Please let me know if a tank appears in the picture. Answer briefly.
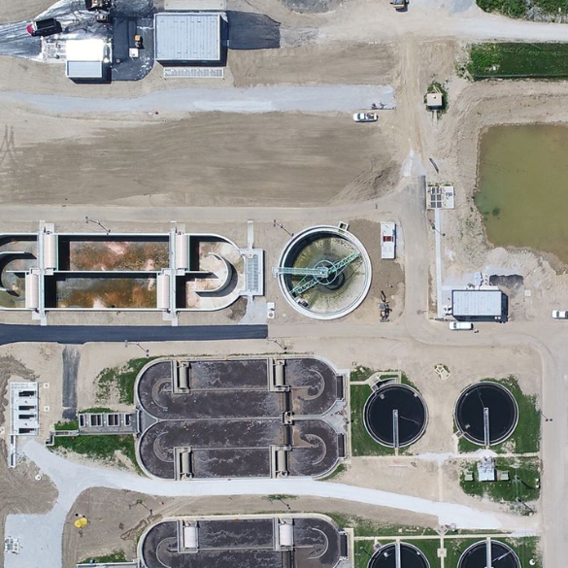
Yes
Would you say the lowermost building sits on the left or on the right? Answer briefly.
right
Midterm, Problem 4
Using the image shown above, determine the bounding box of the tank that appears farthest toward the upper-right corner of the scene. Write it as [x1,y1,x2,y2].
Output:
[272,221,373,319]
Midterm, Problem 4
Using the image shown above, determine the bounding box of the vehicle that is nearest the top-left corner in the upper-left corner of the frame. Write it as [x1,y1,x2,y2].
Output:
[27,16,61,34]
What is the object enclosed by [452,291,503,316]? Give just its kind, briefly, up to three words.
building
